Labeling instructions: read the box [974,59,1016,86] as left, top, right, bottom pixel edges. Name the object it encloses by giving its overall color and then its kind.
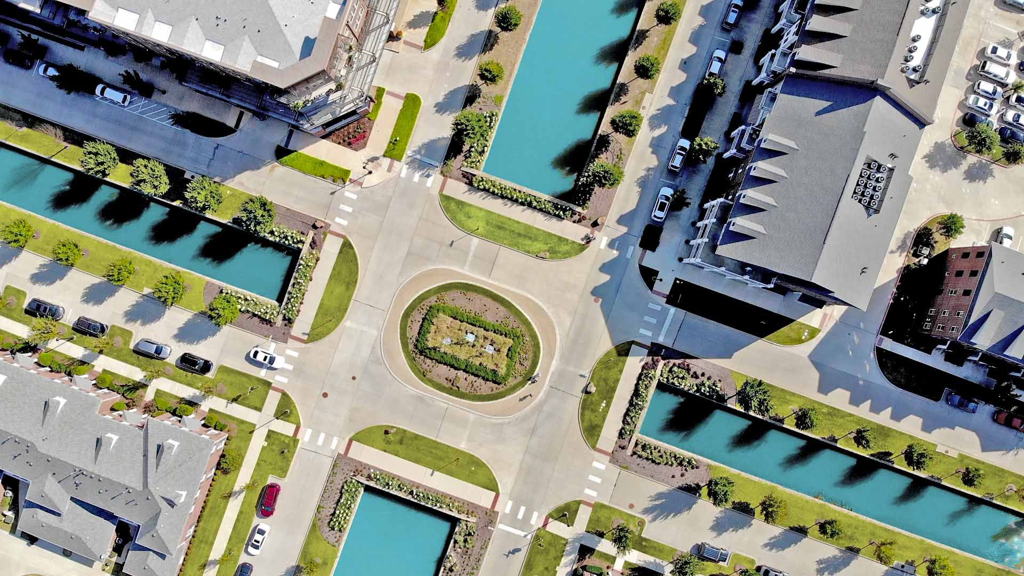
white car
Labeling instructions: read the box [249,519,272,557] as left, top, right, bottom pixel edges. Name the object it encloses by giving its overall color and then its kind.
white car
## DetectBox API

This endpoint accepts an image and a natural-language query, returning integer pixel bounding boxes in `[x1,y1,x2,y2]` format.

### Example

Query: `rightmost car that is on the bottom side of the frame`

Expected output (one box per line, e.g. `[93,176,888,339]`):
[991,408,1024,430]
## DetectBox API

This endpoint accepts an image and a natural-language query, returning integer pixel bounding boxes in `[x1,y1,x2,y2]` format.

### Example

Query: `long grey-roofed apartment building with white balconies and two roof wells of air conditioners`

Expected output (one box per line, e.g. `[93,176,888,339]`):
[682,0,979,309]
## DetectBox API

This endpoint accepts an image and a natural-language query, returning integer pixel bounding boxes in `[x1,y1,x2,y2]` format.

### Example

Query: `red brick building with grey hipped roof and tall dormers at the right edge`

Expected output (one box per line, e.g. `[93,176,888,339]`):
[909,241,1024,383]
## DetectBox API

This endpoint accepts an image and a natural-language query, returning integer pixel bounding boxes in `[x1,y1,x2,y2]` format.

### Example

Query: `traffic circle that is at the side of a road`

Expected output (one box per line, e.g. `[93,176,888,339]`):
[380,266,560,419]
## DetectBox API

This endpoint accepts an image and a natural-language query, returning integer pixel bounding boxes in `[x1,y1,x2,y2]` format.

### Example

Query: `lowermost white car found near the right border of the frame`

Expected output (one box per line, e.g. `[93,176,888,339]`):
[995,220,1017,247]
